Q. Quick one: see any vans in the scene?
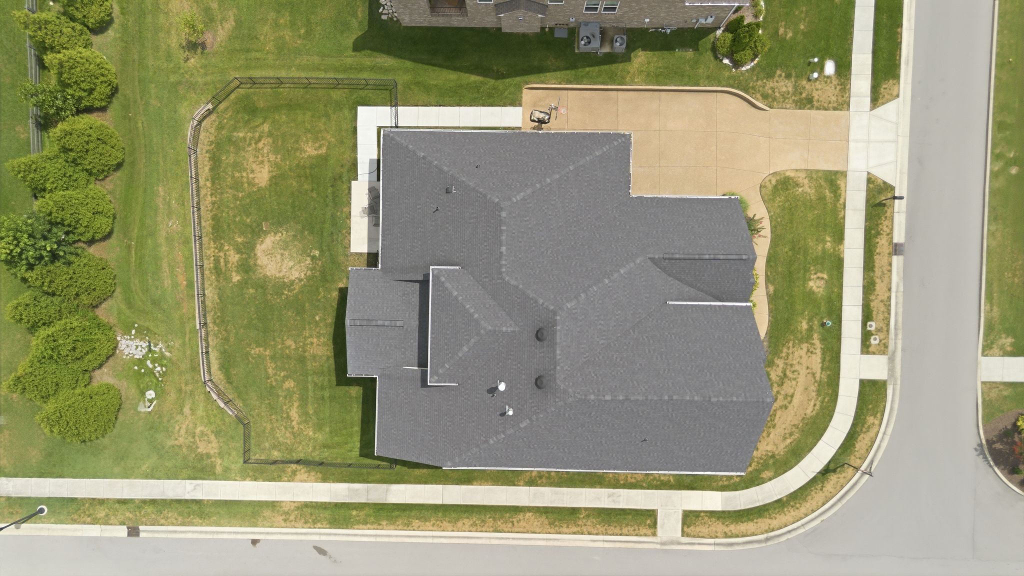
No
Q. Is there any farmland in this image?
No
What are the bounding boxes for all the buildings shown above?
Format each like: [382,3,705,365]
[345,127,775,475]
[382,0,749,32]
